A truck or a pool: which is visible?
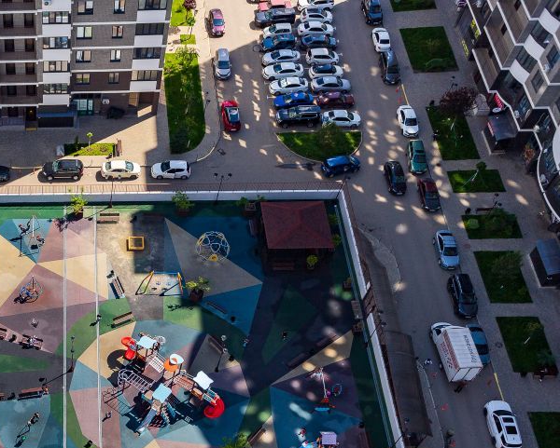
truck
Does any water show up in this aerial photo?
No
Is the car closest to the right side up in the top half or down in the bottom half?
bottom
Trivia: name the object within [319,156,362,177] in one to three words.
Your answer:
car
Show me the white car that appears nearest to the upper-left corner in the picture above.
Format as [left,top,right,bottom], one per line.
[101,162,140,180]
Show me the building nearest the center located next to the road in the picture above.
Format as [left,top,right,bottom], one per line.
[260,199,337,261]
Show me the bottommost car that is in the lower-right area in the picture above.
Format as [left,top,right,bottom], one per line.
[486,401,523,448]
